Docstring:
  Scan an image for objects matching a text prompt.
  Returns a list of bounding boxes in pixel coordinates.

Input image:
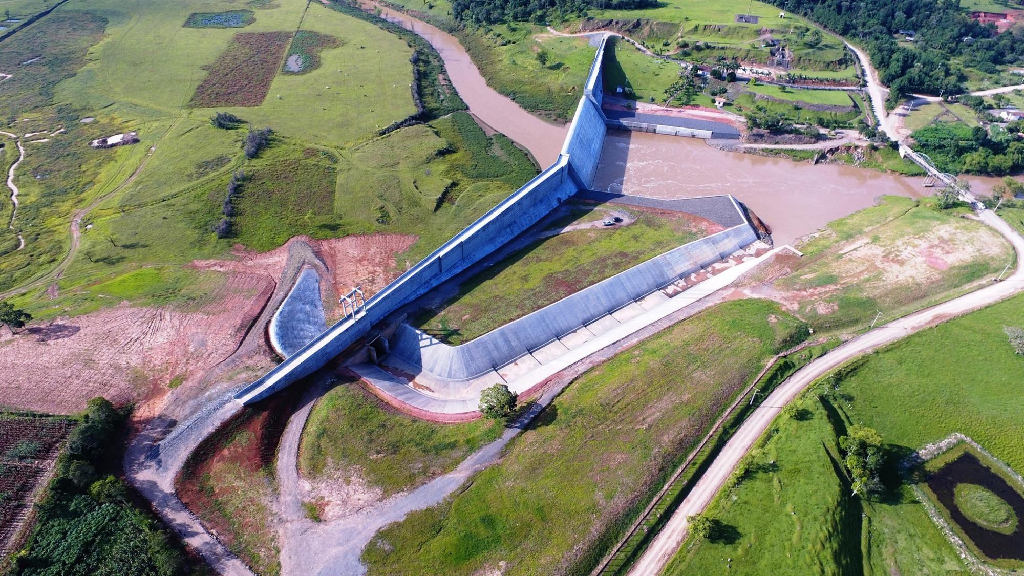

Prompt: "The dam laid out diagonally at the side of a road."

[235,38,607,414]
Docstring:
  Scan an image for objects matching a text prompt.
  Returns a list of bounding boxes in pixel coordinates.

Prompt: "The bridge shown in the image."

[888,145,975,204]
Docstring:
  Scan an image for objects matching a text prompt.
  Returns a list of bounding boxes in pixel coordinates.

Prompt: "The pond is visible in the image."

[930,454,1024,562]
